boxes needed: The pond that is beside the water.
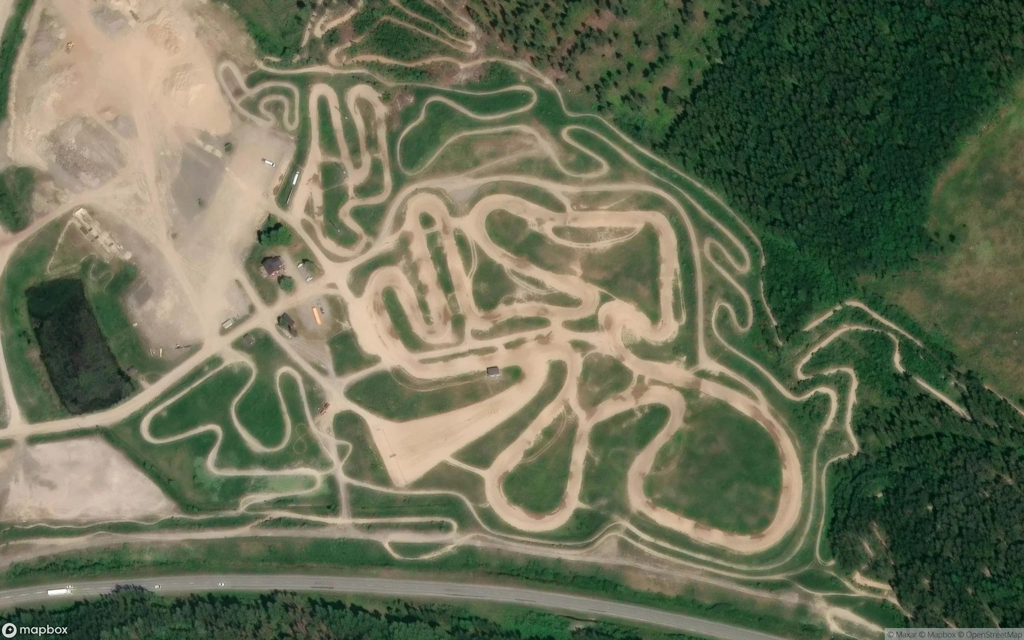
[24,277,136,416]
